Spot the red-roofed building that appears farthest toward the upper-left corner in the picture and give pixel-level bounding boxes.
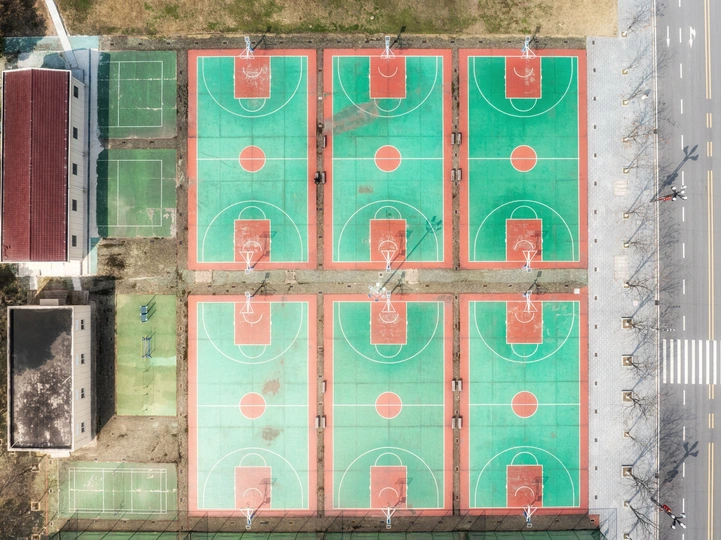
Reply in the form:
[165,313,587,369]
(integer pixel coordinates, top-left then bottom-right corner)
[1,65,86,263]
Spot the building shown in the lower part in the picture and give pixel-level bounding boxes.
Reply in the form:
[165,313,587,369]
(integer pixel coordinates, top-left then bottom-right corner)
[8,296,92,451]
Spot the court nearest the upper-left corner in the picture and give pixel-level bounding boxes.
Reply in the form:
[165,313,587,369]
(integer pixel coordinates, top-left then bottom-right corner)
[96,51,177,139]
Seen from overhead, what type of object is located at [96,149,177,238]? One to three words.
sports court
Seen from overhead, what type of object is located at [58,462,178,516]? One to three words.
sports court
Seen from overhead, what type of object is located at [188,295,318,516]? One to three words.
basketball court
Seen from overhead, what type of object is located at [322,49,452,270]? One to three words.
basketball court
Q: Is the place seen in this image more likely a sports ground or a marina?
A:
sports ground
